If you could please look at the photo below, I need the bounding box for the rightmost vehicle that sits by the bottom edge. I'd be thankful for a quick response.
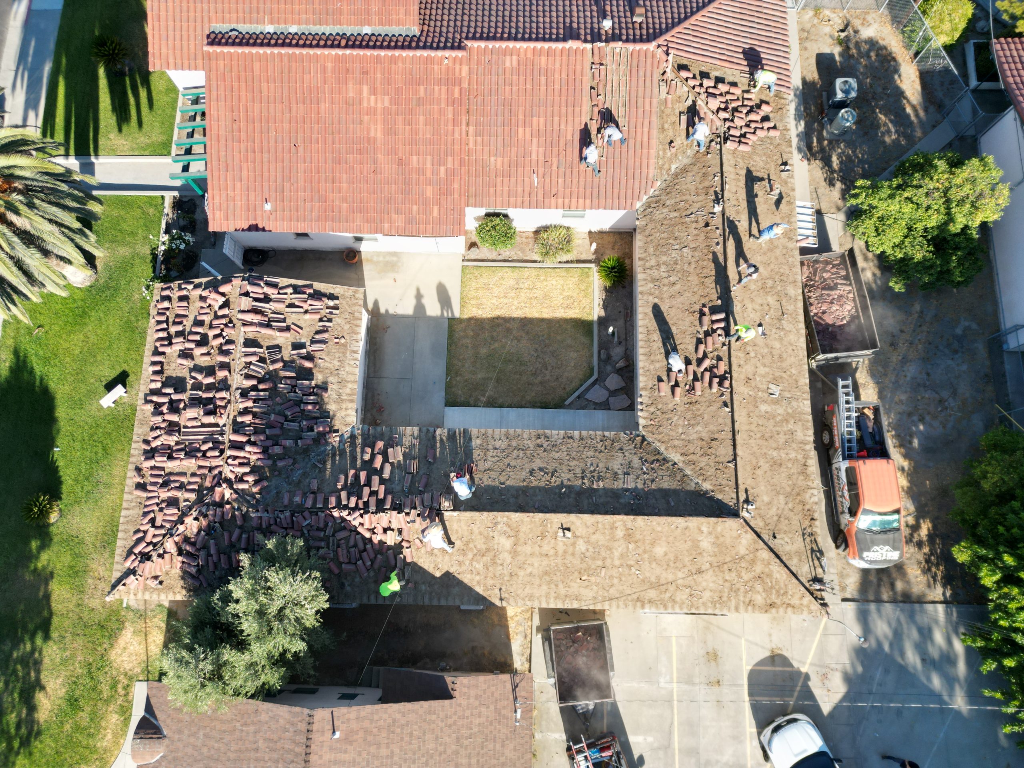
[763,702,846,768]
